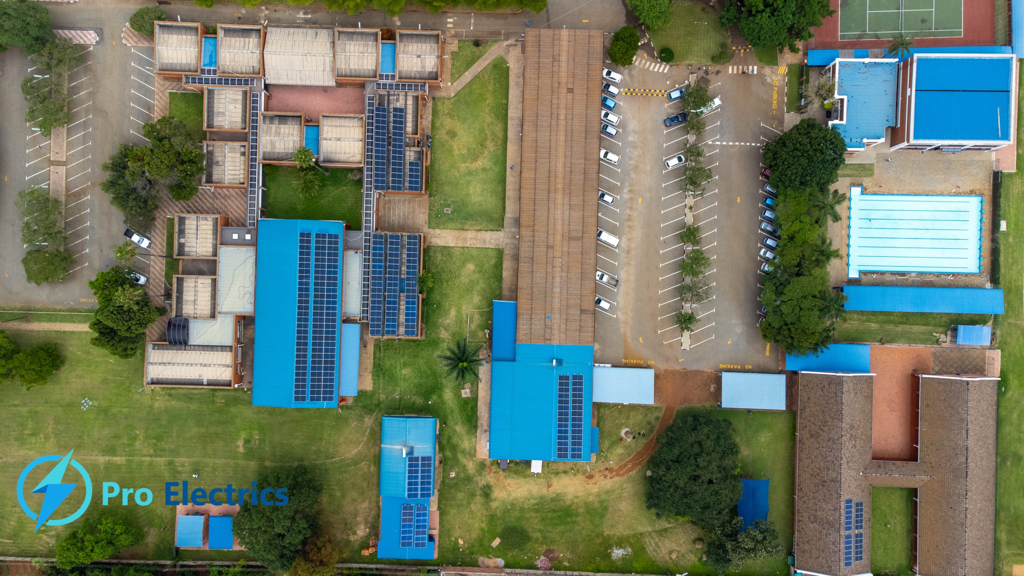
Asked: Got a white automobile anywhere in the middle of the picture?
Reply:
Yes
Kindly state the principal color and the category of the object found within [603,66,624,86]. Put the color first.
white car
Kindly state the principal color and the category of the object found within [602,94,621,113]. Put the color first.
blue car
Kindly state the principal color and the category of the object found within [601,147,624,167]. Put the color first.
white vehicle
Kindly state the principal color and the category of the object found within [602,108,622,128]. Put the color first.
white car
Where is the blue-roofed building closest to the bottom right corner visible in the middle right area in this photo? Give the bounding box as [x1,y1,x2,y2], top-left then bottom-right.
[950,325,991,345]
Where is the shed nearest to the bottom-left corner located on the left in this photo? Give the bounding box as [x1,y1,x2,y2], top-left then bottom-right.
[177,513,208,547]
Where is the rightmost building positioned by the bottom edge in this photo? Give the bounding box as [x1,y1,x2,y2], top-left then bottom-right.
[910,375,998,576]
